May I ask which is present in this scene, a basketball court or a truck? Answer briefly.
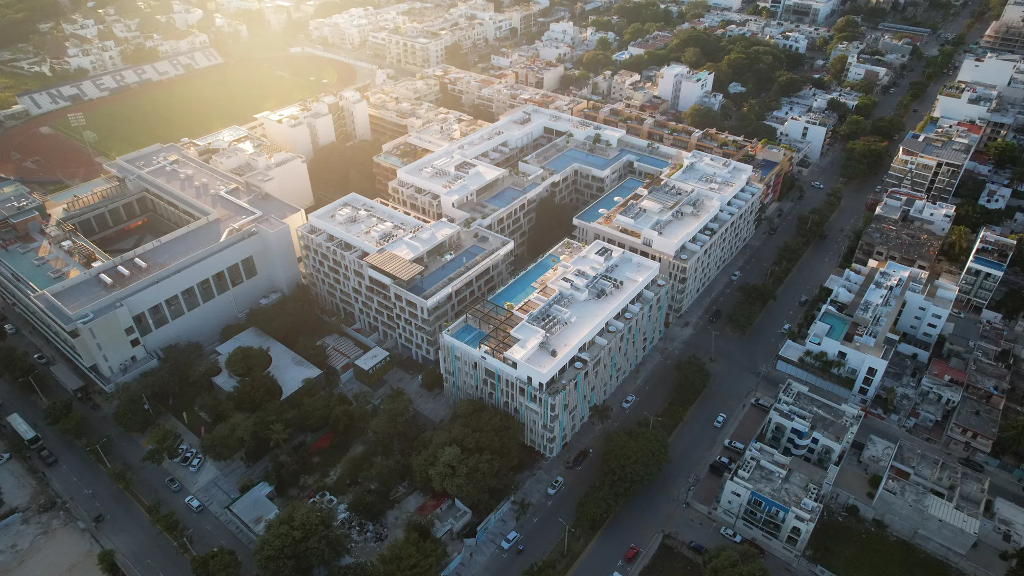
truck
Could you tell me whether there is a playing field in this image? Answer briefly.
Yes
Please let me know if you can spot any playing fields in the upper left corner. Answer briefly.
Yes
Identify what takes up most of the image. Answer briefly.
buildings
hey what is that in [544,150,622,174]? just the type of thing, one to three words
swimming pool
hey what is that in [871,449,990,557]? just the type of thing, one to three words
house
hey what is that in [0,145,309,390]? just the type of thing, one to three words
building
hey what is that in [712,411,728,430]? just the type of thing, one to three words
car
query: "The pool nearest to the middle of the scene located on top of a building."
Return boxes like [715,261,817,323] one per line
[492,255,560,306]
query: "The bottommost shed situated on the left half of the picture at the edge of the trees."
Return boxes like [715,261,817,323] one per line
[229,482,280,542]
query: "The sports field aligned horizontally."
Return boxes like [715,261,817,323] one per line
[46,62,346,162]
